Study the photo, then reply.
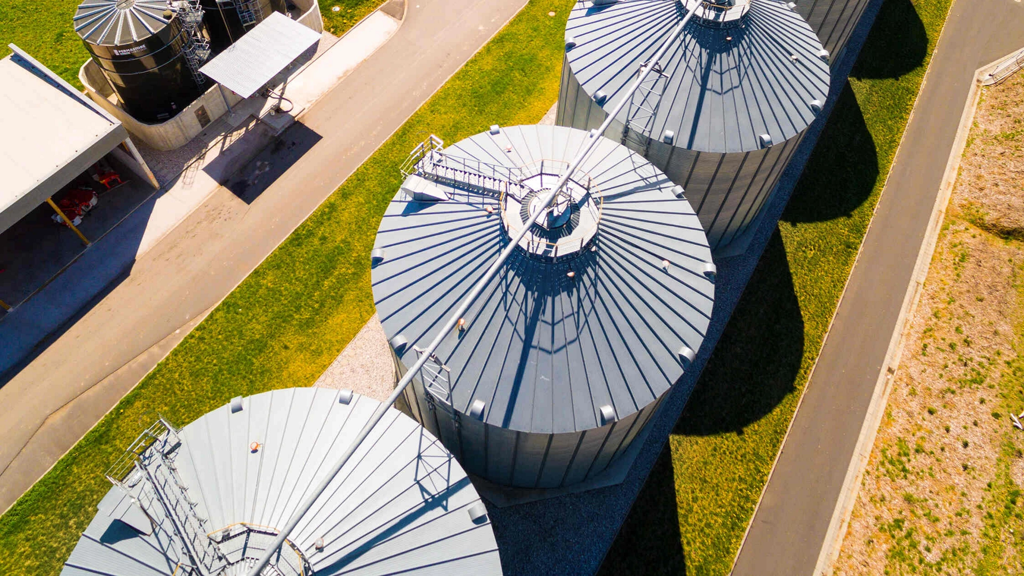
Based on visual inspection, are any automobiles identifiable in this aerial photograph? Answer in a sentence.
No, the picture doesn't show any automobile.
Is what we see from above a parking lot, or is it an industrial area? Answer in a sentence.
This image shows an industrial area.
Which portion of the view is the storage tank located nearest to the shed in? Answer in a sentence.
The storage tank located nearest to the shed appears toward the top left of the photo.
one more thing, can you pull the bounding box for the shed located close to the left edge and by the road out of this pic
[0,41,163,319]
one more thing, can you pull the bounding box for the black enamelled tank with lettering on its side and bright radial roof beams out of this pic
[72,0,216,125]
